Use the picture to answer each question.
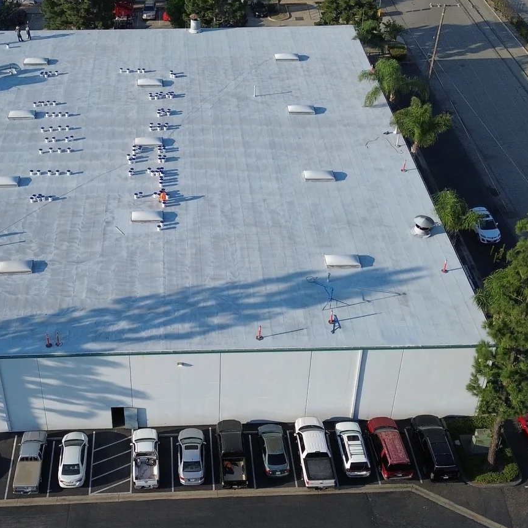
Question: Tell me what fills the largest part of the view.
buildings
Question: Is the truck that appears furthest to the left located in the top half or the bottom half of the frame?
bottom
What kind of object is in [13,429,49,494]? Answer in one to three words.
truck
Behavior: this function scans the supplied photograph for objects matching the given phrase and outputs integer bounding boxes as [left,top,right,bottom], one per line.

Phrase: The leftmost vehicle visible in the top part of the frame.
[113,0,133,29]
